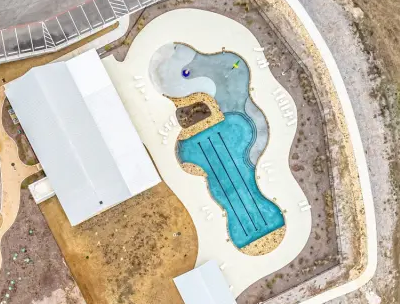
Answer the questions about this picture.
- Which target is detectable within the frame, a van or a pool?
pool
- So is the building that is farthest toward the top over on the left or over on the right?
left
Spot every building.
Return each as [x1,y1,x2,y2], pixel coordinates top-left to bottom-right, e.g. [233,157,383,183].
[3,48,162,226]
[173,260,237,304]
